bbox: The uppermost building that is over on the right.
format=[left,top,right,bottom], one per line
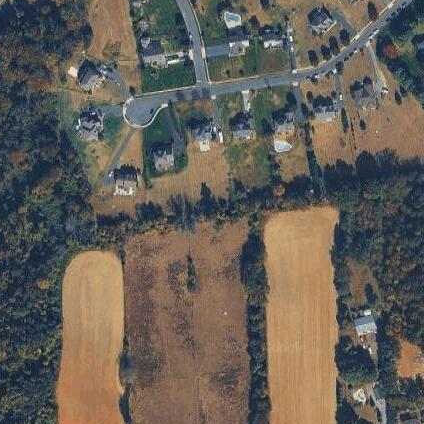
[309,10,334,32]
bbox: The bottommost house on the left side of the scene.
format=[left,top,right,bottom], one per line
[113,170,136,192]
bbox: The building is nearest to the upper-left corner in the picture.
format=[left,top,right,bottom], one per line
[74,61,106,93]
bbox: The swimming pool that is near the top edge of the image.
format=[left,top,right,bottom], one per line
[224,11,242,27]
